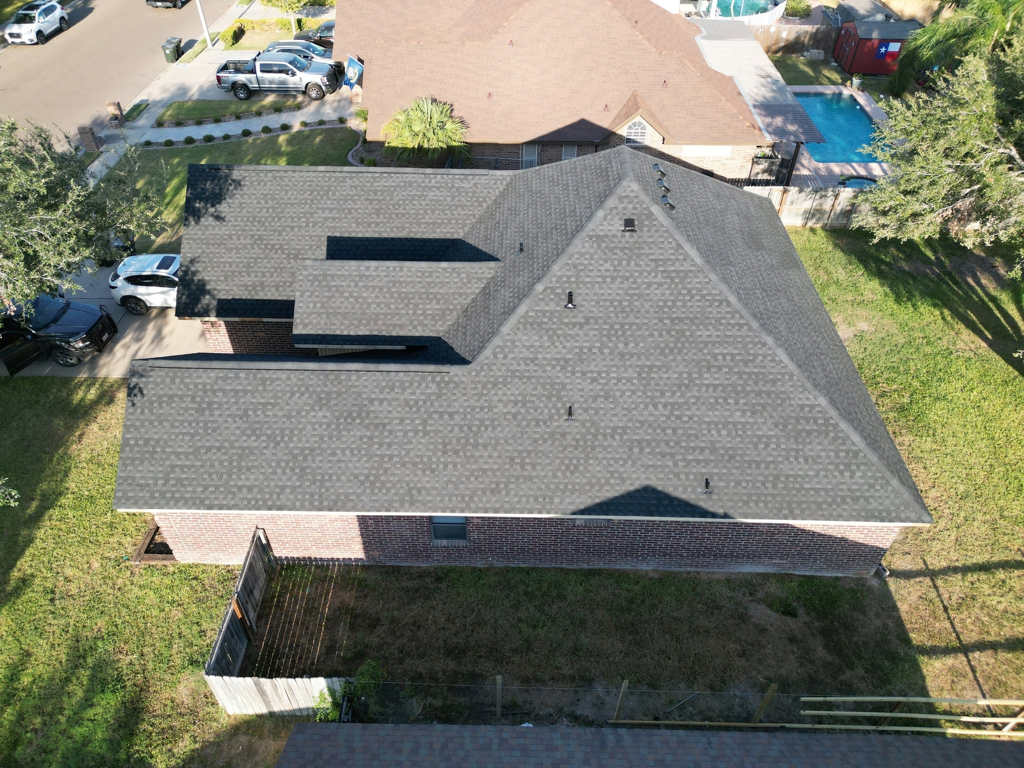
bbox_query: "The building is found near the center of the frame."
[112,146,939,578]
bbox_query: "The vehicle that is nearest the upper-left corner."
[1,1,68,45]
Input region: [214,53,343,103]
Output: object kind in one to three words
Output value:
truck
